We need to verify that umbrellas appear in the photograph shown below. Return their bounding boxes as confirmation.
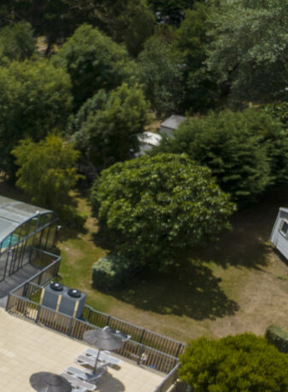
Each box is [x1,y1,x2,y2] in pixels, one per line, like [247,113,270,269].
[28,374,76,392]
[83,329,128,373]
